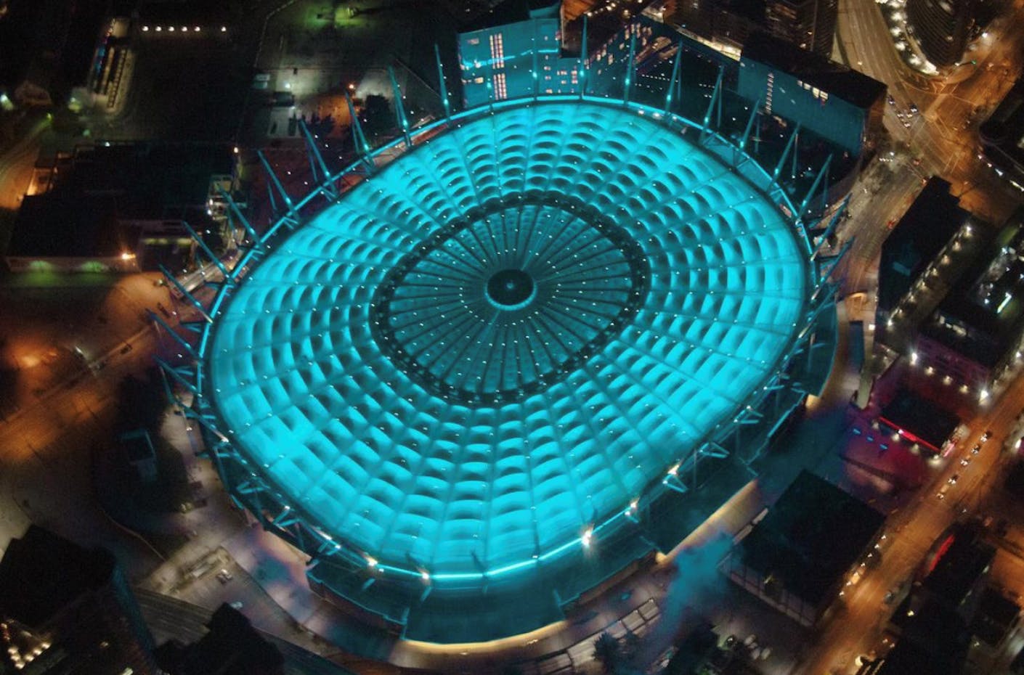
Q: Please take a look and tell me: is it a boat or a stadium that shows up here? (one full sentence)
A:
Visible in the photo is a stadium.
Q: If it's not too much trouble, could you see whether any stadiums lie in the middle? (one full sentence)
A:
Yes, in the middle there is a stadium.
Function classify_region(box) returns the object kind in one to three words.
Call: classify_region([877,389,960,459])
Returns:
building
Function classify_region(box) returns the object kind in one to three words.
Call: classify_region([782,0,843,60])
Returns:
building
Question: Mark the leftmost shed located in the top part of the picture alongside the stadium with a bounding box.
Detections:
[7,193,145,271]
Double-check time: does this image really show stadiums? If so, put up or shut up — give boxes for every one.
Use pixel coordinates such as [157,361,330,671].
[149,20,858,651]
